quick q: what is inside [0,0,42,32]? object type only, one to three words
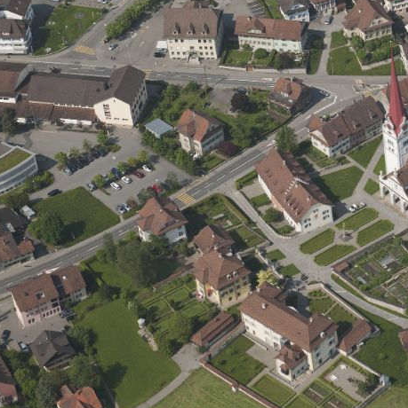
house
